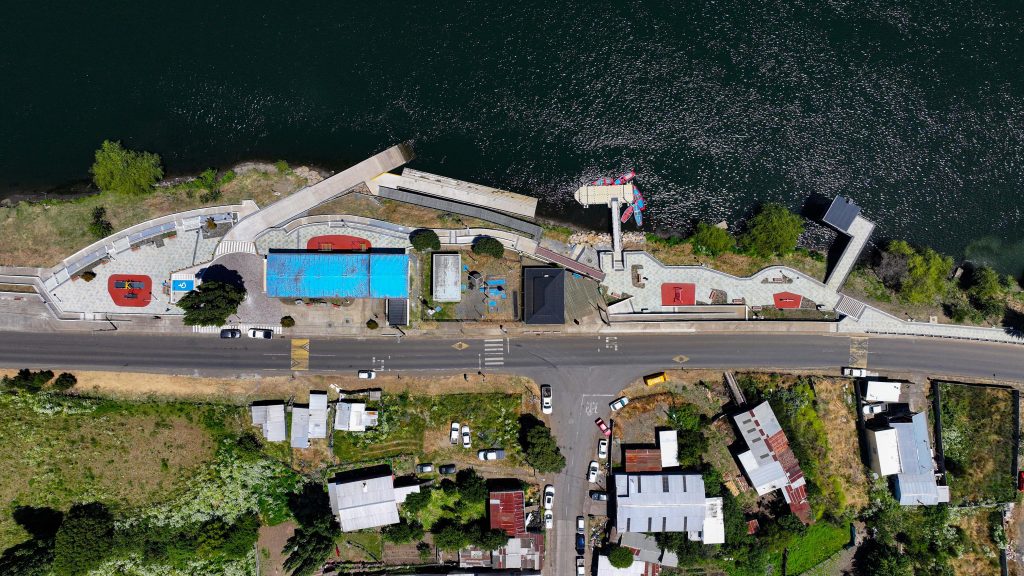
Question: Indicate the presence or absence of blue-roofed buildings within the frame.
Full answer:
Yes, a blue-roofed building appears in the view.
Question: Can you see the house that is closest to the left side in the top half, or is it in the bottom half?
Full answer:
The house that is closest to the left side sits in the bottom half of the picture.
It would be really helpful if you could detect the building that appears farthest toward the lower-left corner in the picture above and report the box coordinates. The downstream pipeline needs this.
[251,404,289,441]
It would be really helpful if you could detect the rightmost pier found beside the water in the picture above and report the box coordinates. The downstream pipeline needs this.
[824,215,875,293]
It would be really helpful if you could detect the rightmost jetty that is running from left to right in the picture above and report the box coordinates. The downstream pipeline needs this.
[575,182,634,208]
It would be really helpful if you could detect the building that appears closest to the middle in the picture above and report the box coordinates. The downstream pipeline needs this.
[525,268,565,324]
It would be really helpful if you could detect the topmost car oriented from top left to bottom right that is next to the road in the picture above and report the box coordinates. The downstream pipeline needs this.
[595,417,612,438]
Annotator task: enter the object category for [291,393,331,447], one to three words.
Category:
house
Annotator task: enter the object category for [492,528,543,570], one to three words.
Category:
shed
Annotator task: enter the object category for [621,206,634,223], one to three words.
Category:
boat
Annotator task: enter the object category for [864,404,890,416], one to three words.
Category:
vehicle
